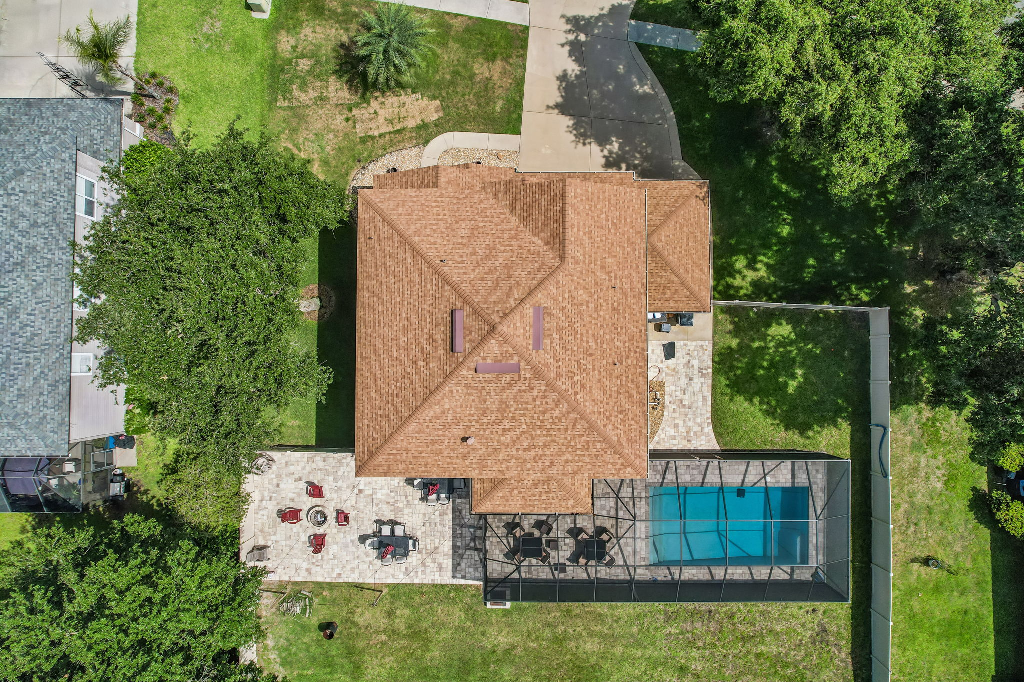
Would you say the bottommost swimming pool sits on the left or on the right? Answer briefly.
right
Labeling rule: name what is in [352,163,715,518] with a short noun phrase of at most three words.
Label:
house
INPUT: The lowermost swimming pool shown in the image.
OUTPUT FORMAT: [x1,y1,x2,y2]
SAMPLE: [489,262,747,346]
[646,483,815,570]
